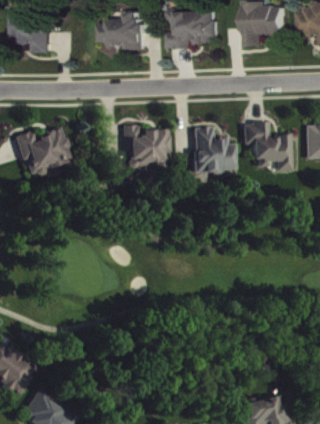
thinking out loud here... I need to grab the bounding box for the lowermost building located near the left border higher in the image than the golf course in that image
[12,124,76,175]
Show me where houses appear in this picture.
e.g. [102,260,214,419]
[0,344,32,394]
[26,386,78,424]
[6,15,48,52]
[244,120,298,176]
[290,0,320,54]
[162,2,216,50]
[124,124,178,170]
[306,126,320,158]
[96,8,142,50]
[245,392,295,424]
[191,124,240,182]
[236,0,281,48]
[12,124,76,175]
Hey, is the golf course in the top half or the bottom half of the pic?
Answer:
bottom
